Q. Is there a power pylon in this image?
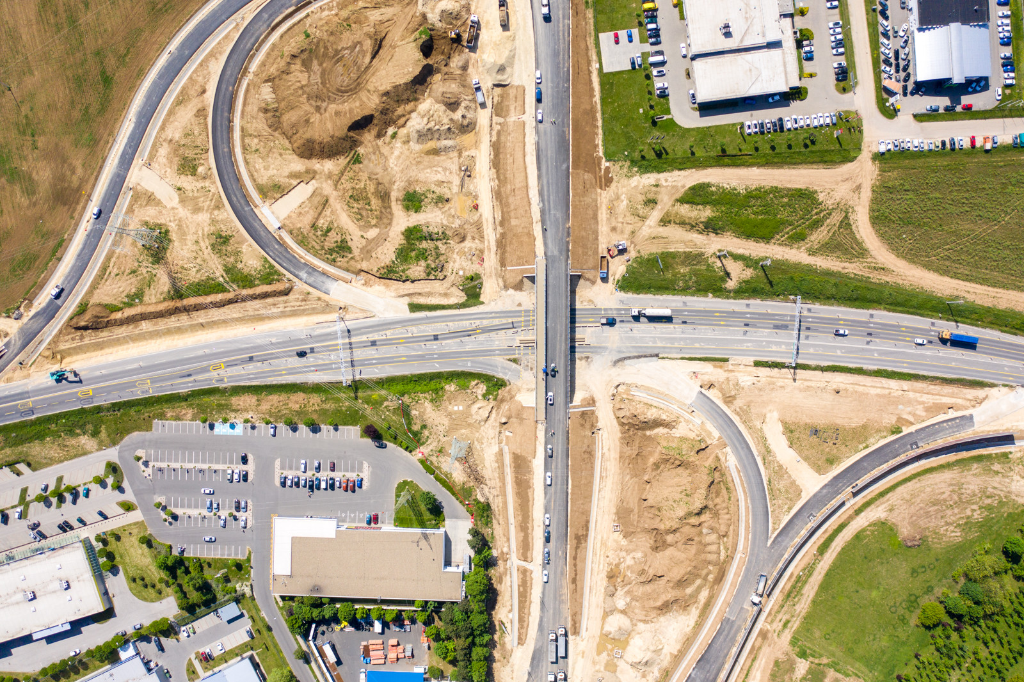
Yes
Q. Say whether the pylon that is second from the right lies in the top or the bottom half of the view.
bottom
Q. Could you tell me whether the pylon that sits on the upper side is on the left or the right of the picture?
left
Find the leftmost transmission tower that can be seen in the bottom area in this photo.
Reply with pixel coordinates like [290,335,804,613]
[388,484,417,511]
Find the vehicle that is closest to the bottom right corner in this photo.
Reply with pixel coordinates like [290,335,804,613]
[751,575,768,604]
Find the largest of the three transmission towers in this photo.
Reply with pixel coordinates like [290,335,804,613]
[100,210,160,249]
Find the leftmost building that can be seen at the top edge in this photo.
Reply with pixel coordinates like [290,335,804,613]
[681,0,799,107]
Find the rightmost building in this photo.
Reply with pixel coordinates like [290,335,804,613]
[903,0,991,85]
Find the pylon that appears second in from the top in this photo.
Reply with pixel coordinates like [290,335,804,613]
[447,435,471,473]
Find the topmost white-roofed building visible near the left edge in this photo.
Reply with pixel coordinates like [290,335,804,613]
[0,532,117,639]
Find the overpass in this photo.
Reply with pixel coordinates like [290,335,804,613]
[523,258,581,428]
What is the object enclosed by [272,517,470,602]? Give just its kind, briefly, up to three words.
building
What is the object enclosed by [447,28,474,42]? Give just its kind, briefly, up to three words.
work vehicle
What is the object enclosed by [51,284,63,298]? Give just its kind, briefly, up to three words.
vehicle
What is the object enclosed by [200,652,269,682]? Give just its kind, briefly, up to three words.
building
